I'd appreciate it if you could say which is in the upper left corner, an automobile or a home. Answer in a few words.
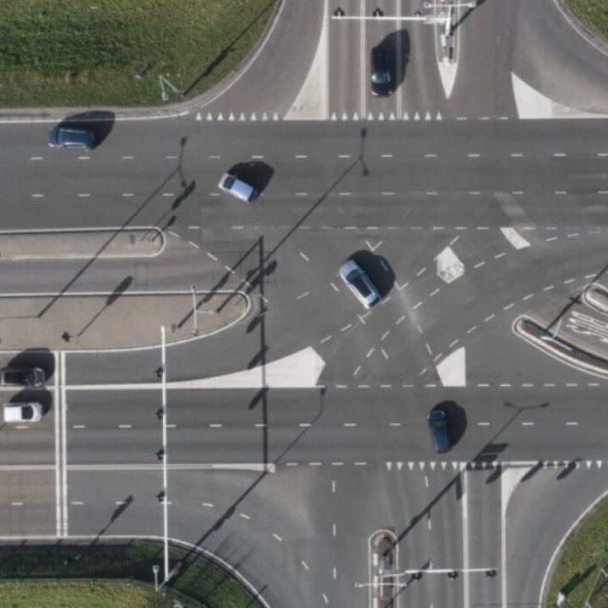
automobile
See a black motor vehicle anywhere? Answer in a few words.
Yes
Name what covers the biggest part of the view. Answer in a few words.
paved ground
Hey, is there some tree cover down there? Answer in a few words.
No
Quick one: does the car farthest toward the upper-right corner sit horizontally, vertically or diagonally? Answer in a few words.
vertically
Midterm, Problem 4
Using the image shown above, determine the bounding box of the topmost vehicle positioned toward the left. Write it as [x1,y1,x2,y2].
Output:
[49,126,96,150]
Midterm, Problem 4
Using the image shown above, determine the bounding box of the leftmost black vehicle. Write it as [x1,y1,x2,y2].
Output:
[1,364,48,387]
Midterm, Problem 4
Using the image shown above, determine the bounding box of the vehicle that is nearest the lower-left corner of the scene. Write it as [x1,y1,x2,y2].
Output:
[1,401,45,423]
